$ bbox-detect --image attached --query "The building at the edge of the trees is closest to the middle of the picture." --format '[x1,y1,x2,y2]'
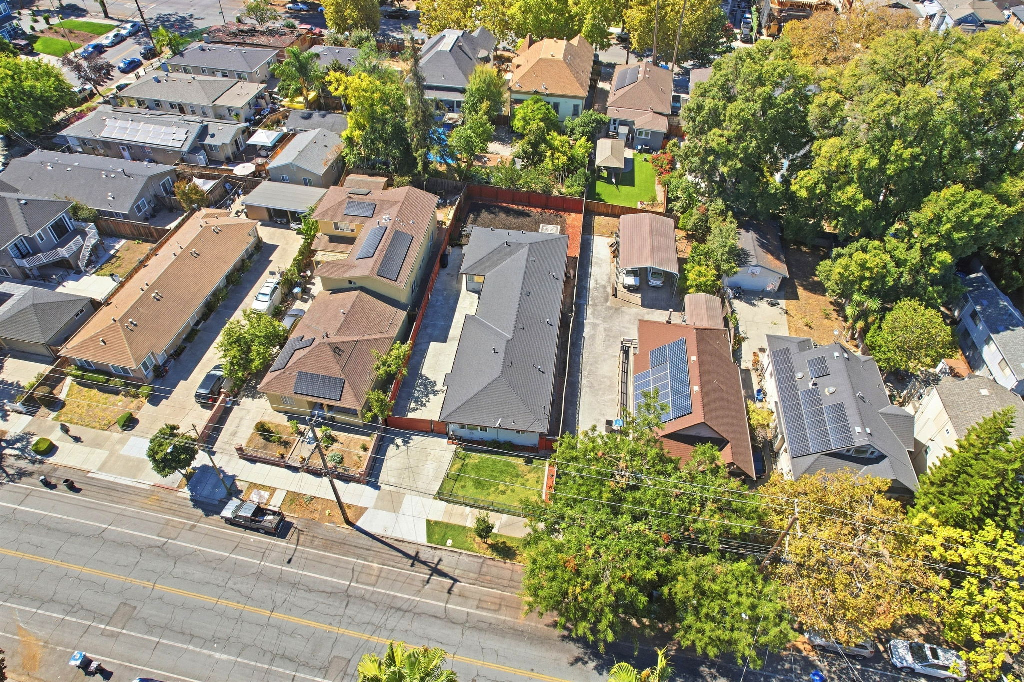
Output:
[439,226,570,448]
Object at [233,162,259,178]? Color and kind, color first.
white umbrella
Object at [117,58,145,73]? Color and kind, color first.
blue car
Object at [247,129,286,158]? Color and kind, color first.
white tent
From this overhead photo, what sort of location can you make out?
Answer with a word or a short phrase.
residential area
